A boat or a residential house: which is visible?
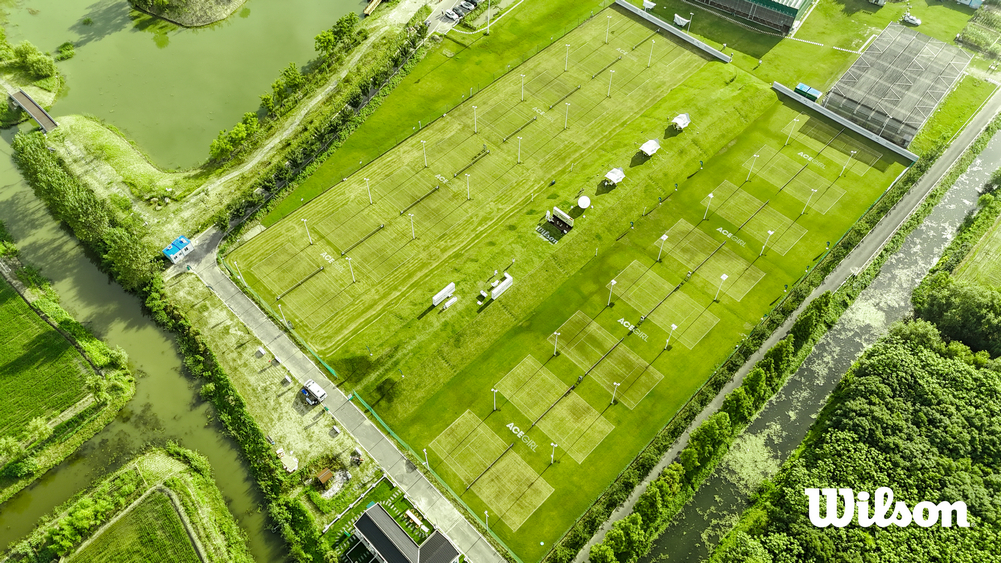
residential house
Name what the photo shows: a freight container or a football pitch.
freight container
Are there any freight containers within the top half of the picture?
Yes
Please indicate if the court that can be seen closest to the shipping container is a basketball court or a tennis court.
tennis court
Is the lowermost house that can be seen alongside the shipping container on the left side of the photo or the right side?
right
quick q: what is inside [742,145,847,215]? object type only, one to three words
tennis court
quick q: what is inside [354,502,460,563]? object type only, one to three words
house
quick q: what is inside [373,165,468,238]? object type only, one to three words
tennis court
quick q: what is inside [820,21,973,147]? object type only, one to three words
house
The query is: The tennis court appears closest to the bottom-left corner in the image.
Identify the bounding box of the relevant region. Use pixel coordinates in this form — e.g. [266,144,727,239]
[251,241,351,328]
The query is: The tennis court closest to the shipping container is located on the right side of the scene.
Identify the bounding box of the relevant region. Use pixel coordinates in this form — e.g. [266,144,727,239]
[782,111,883,176]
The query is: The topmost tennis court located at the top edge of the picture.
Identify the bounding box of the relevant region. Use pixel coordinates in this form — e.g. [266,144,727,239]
[605,15,689,64]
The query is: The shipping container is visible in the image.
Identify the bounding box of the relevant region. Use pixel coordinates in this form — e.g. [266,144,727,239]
[791,79,825,105]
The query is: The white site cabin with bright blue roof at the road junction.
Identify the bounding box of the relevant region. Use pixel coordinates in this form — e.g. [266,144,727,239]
[162,235,196,264]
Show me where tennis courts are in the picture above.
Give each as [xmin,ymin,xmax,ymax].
[605,15,689,64]
[476,99,567,161]
[546,310,665,410]
[428,410,554,531]
[426,131,519,198]
[606,260,720,350]
[742,145,847,215]
[251,241,351,328]
[701,180,807,256]
[494,355,616,464]
[564,41,651,95]
[782,111,883,176]
[373,165,468,238]
[655,219,765,301]
[314,202,413,282]
[523,69,610,126]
